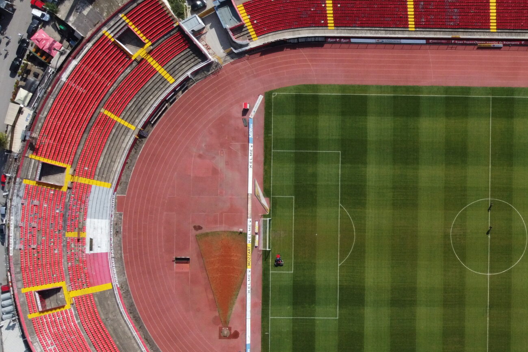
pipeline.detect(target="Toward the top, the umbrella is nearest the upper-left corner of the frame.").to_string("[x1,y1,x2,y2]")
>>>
[31,29,56,49]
